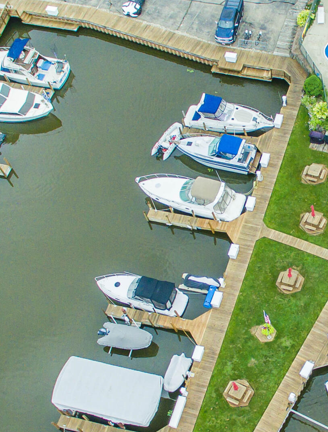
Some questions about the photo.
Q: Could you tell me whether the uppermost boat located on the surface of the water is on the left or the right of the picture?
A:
left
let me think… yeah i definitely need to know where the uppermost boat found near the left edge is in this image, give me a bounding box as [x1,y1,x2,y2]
[0,33,73,90]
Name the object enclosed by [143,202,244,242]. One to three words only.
pier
